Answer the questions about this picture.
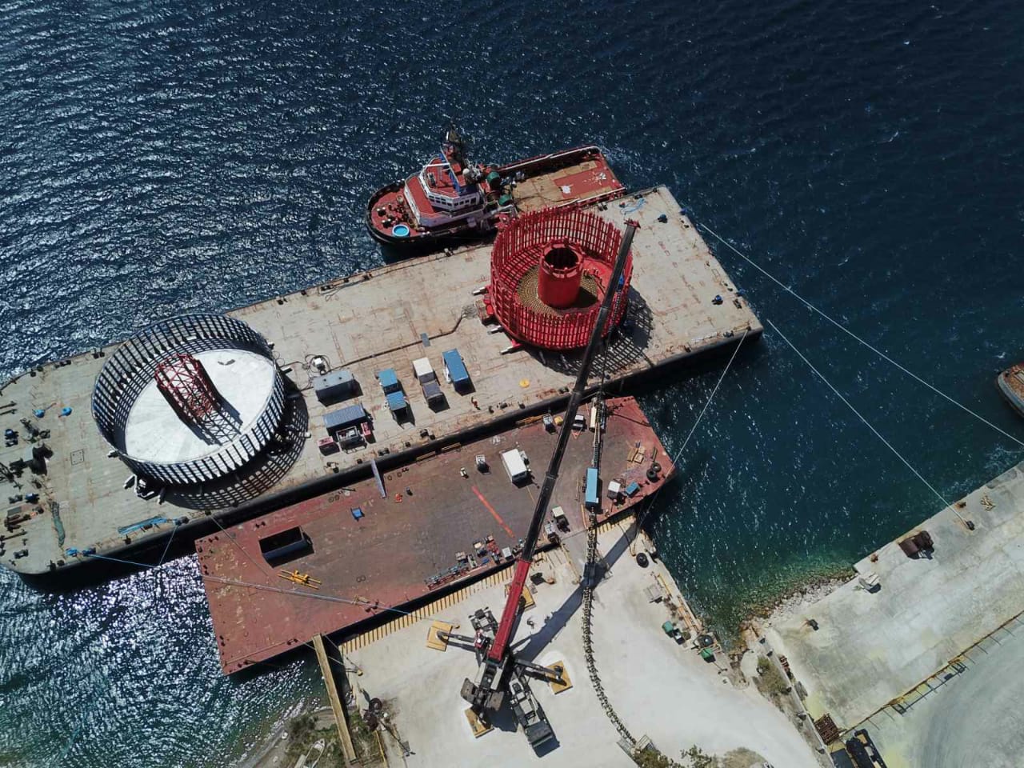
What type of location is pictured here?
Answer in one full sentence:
This image shows a port.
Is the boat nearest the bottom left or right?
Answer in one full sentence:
The boat nearest the bottom appears in the left half of the scene.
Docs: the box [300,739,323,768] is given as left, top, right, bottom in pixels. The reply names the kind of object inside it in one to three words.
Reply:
boat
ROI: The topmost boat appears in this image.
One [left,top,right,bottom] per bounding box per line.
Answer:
[368,122,626,256]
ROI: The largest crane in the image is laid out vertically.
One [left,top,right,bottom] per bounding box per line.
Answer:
[433,225,639,753]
